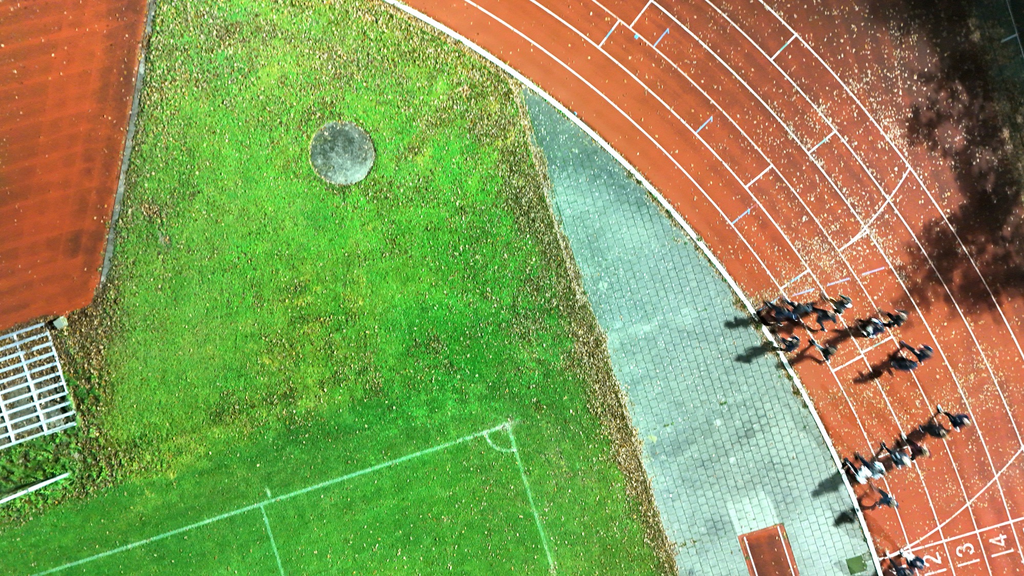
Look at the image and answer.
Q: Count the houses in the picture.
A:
0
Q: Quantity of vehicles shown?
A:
none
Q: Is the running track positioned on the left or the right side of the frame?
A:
right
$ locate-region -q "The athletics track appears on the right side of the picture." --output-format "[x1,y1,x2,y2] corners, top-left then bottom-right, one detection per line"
[396,0,1024,576]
